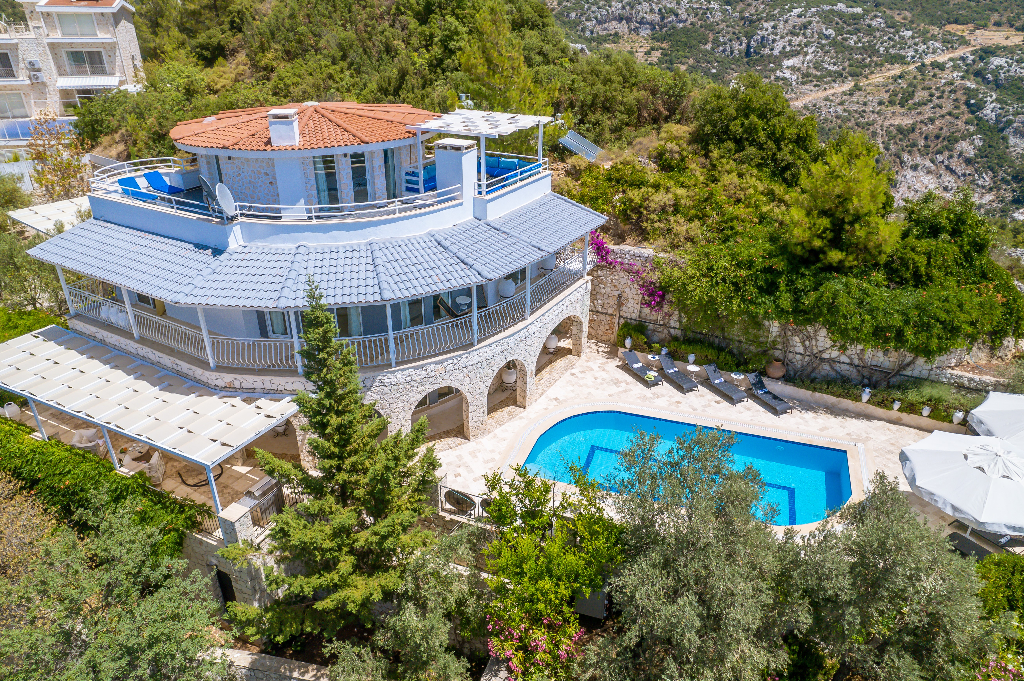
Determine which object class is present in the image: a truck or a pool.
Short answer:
pool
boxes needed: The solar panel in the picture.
[557,130,603,201]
